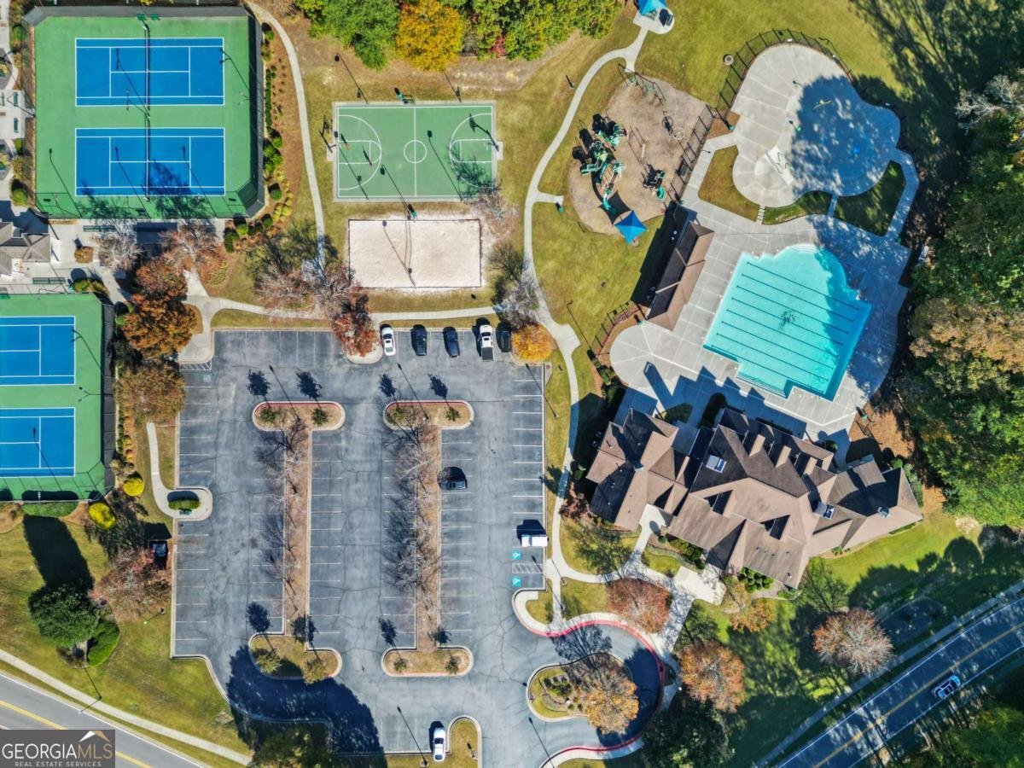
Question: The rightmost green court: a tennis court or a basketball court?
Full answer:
Looking closely, the rightmost green court is a basketball court.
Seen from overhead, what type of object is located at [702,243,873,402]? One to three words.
swimming pool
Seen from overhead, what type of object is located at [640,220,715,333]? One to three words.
building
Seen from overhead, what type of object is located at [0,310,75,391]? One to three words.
tennis court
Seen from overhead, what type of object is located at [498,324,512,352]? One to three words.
car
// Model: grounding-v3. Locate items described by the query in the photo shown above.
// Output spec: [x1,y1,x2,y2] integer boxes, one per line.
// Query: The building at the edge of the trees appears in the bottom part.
[584,406,921,582]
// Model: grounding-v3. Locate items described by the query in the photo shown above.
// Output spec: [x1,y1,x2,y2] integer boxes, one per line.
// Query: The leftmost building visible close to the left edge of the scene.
[0,215,63,292]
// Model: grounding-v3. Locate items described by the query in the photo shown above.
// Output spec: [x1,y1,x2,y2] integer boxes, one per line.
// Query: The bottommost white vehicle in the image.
[431,729,446,760]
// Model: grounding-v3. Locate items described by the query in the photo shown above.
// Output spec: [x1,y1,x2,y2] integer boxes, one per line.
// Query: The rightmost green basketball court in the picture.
[327,101,503,201]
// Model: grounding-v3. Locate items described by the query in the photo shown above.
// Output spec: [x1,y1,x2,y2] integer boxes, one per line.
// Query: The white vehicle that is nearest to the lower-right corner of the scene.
[519,536,547,550]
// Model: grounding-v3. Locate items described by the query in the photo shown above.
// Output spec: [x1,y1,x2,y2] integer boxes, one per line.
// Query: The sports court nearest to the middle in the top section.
[349,217,482,288]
